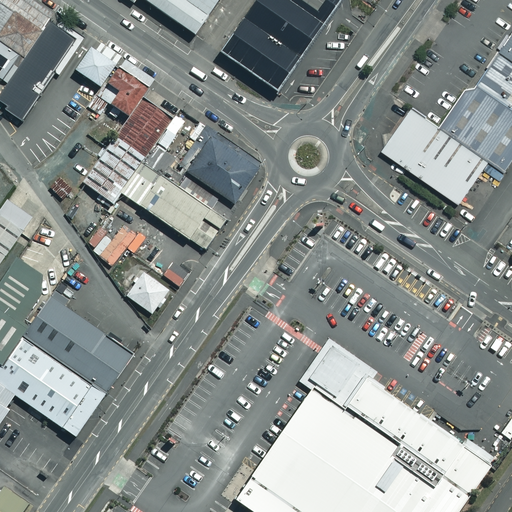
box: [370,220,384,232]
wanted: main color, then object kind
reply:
white vehicle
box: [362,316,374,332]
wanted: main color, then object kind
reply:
red vehicle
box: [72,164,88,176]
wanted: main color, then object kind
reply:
white vehicle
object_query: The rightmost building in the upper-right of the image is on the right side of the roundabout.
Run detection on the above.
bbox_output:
[438,30,512,173]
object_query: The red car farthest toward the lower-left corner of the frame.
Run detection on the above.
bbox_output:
[74,271,90,284]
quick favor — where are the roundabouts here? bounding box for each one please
[288,134,330,178]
